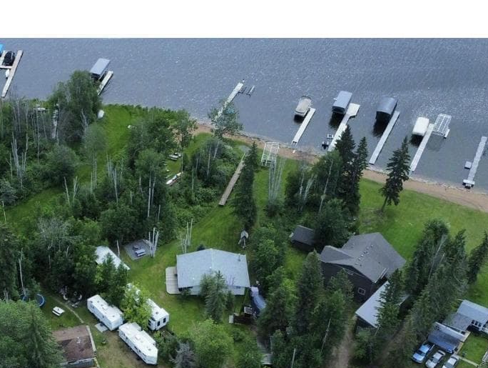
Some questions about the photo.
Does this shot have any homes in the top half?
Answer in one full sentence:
No, no home is visible in the top half.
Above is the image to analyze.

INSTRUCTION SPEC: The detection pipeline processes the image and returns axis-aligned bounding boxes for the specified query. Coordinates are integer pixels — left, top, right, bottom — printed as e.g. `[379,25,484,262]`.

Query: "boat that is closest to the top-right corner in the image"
[413,116,428,133]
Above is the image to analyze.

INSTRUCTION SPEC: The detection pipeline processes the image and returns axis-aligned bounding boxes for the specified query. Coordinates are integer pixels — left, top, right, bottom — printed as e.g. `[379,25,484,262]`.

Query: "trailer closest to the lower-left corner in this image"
[88,297,123,332]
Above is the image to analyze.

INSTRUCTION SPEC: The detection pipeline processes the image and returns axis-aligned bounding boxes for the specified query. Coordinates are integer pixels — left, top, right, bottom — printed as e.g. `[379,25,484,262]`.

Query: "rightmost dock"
[462,137,488,188]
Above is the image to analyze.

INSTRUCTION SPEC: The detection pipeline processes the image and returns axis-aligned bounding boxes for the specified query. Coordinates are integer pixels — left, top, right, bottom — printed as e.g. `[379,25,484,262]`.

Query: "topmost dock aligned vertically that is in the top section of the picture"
[0,50,25,98]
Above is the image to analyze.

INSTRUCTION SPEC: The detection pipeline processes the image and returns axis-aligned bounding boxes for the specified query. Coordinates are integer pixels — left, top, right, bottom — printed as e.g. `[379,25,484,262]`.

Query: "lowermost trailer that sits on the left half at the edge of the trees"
[119,322,158,365]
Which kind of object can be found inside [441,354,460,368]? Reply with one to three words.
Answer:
car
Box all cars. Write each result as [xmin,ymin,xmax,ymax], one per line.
[441,354,460,368]
[413,339,435,361]
[426,348,447,368]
